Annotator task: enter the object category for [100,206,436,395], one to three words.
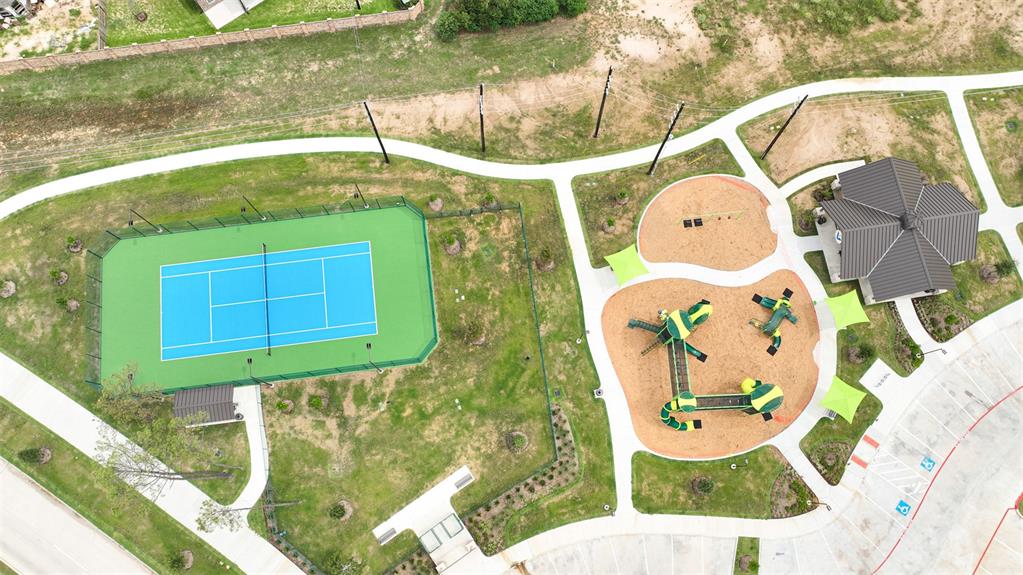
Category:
tennis court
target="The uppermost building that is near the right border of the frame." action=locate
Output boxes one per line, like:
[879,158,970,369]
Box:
[812,157,979,304]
